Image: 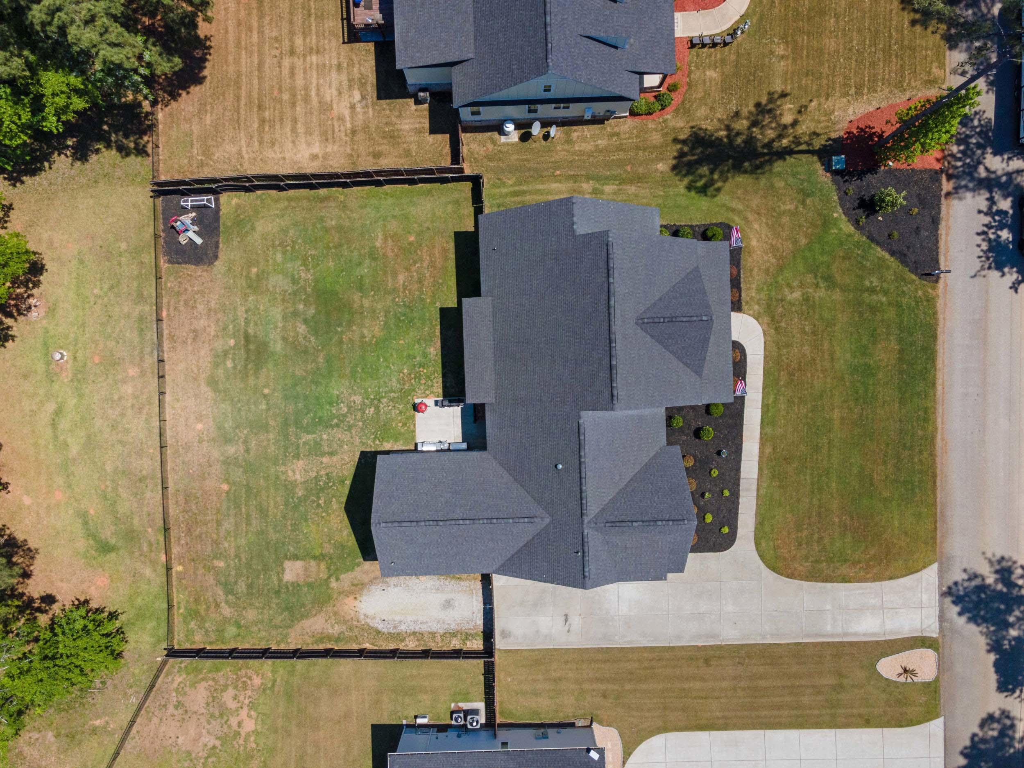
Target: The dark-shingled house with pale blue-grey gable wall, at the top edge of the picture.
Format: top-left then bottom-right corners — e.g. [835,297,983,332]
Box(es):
[393,0,676,125]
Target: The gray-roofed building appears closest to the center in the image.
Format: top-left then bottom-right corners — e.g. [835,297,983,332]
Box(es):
[372,196,735,590]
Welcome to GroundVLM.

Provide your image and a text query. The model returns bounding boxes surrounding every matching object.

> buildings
[372,196,735,590]
[393,0,676,125]
[385,724,608,768]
